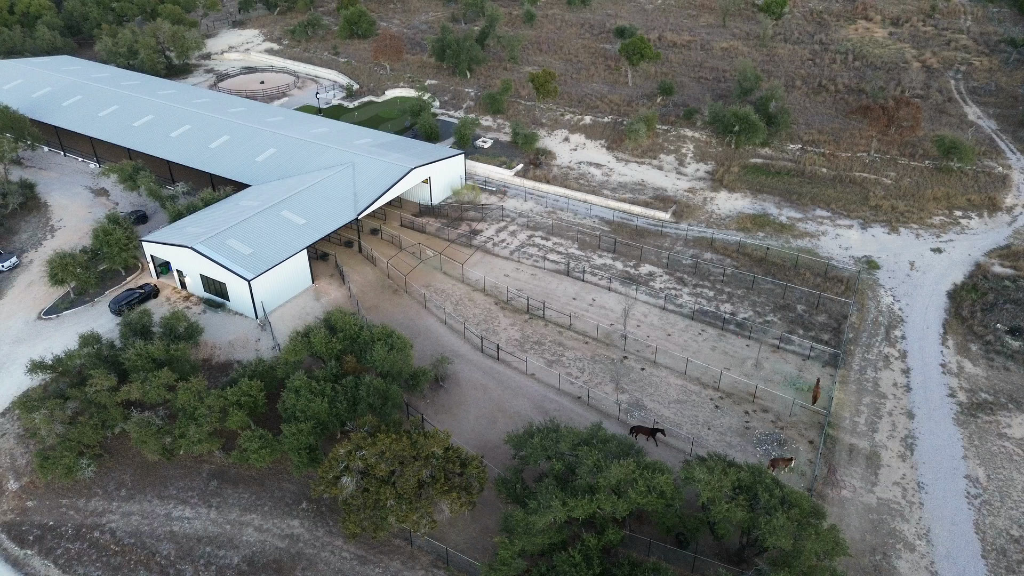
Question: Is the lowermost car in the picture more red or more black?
black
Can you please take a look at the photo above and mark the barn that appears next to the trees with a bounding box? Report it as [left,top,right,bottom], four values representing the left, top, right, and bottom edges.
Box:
[0,55,467,327]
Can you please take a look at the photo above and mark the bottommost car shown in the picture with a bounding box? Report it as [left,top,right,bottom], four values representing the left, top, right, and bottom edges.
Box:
[109,280,166,310]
